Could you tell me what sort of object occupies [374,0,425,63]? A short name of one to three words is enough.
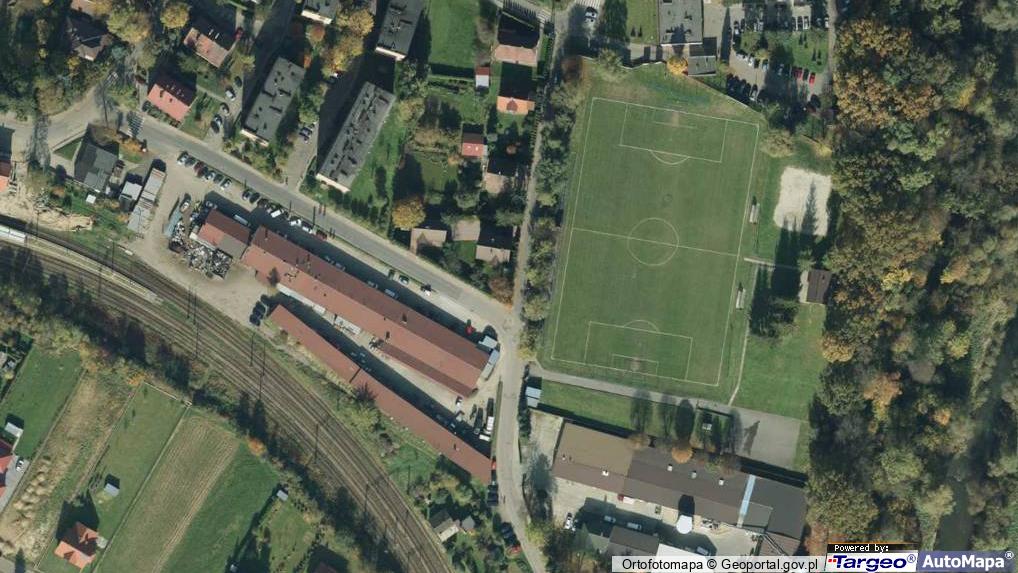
building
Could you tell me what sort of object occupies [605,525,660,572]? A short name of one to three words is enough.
building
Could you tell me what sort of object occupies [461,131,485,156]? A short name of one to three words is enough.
house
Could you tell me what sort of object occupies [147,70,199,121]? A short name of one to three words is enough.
house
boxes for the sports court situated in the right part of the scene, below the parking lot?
[772,167,832,235]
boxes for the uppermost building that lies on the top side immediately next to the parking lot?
[655,0,704,46]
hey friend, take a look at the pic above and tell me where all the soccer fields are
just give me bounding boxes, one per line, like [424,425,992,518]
[544,91,766,393]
